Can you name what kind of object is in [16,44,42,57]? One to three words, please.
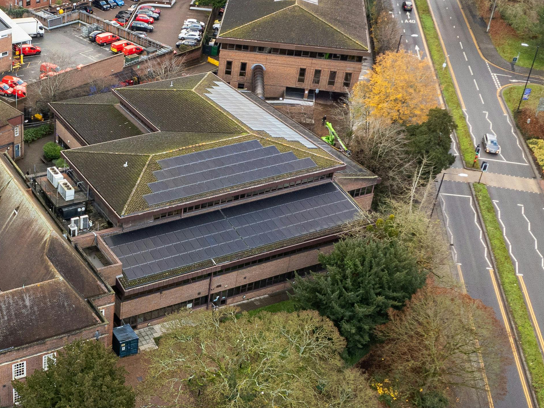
vehicle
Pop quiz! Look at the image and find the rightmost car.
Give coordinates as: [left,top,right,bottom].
[482,131,501,155]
